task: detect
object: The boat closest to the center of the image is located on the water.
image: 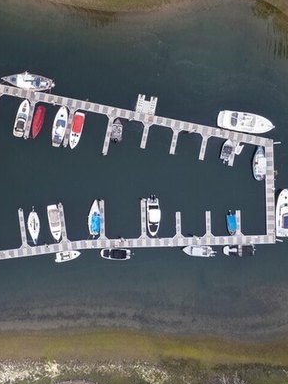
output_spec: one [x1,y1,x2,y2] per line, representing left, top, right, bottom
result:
[146,195,161,236]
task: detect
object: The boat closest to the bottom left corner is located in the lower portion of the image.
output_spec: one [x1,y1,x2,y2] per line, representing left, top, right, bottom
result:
[52,250,80,263]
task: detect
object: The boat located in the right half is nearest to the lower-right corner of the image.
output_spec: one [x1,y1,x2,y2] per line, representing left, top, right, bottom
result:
[224,244,257,257]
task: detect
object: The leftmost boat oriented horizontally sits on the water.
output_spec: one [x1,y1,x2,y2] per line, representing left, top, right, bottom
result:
[0,69,57,99]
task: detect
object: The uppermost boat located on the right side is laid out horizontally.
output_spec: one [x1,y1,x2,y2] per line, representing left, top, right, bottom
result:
[212,111,280,142]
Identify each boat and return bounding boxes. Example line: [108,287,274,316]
[227,210,237,235]
[46,204,64,243]
[31,105,46,138]
[12,100,32,140]
[111,118,123,146]
[89,200,106,238]
[0,69,57,99]
[52,250,80,263]
[66,111,86,149]
[274,189,288,240]
[220,139,235,165]
[27,209,41,244]
[101,243,133,260]
[254,146,287,181]
[50,106,71,150]
[234,144,243,155]
[146,195,161,236]
[183,240,217,258]
[224,244,257,257]
[212,111,280,142]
